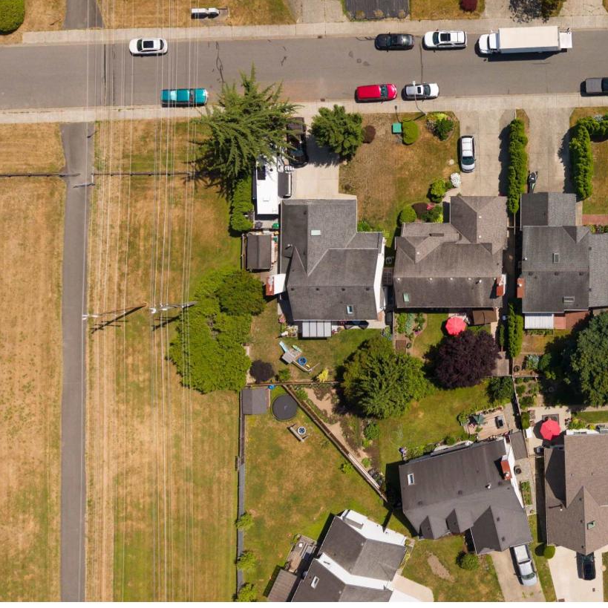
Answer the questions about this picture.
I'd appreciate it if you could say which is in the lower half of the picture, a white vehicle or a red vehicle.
white vehicle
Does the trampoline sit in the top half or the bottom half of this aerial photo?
bottom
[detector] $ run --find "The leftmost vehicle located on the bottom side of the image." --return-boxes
[514,548,536,587]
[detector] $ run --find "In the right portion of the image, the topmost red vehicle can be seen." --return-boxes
[356,84,397,102]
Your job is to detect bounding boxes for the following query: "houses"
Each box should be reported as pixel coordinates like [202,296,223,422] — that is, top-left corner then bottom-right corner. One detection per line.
[261,506,411,608]
[265,198,388,323]
[399,435,536,562]
[544,426,608,563]
[389,196,509,309]
[516,193,608,314]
